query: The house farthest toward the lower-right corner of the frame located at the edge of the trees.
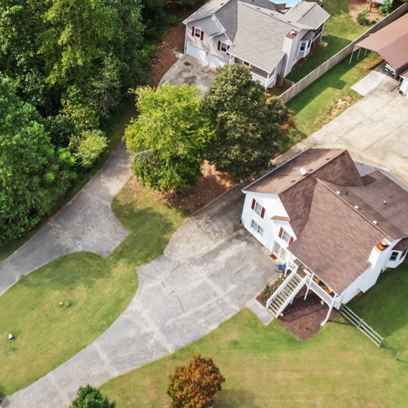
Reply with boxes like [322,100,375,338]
[241,147,408,325]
